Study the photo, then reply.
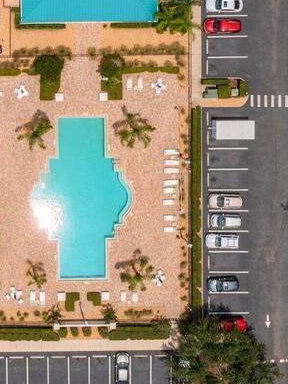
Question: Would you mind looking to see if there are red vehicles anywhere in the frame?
Yes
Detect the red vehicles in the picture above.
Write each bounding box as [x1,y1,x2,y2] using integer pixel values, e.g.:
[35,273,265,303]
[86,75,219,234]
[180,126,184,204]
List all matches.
[215,315,250,332]
[203,18,241,34]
